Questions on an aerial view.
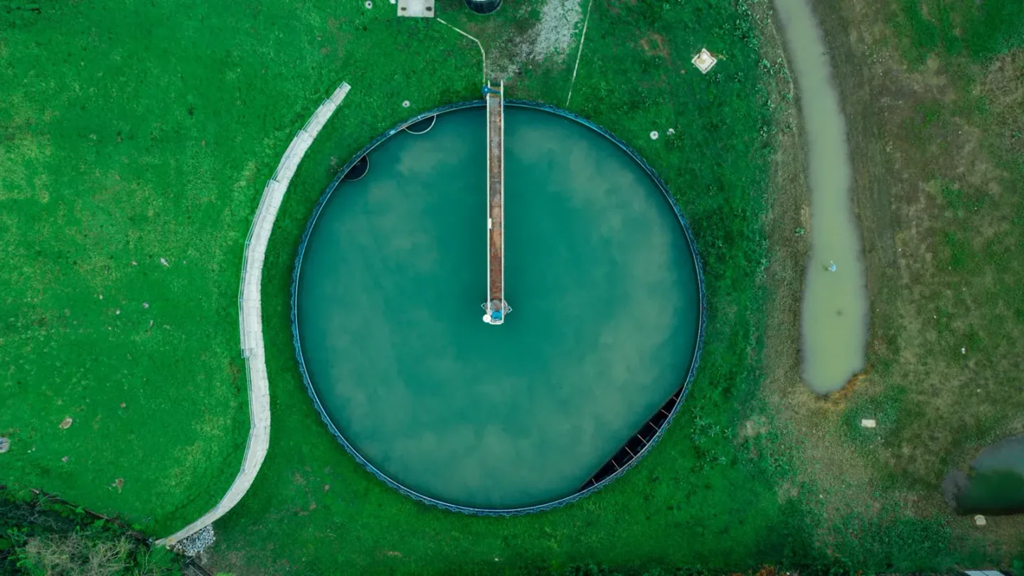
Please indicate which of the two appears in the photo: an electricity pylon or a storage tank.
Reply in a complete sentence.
There is a storage tank in the scene.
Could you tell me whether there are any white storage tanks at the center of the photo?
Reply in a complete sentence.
No, looking at the center of the photo, there is no white storage tank.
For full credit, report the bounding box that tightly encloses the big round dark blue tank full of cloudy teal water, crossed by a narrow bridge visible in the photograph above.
[292,101,705,515]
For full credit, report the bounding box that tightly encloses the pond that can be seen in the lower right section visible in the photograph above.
[942,433,1024,515]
